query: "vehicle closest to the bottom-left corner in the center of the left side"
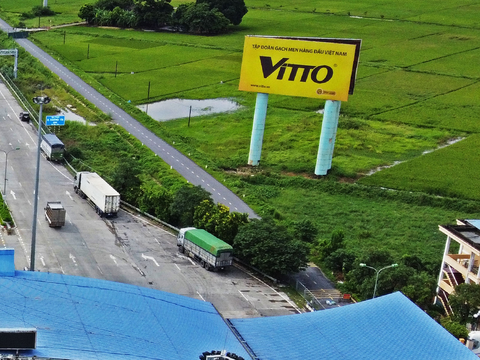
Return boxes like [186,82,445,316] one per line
[47,202,65,225]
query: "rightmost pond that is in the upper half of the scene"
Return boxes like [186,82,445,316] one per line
[136,98,241,120]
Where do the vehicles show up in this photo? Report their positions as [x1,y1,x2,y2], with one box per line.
[174,228,231,268]
[47,202,65,225]
[41,135,62,158]
[21,111,30,120]
[75,175,119,217]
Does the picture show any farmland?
Yes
